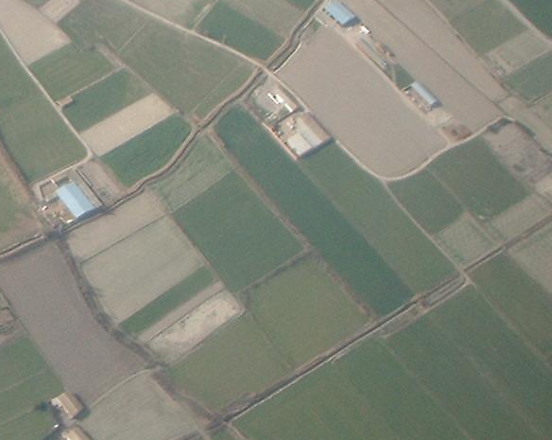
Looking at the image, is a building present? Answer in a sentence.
Yes, there is a building in the image.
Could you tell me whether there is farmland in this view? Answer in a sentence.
Yes, farmland can be seen from above here.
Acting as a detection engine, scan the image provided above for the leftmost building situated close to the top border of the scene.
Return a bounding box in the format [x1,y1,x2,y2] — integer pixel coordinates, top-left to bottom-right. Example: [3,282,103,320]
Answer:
[323,0,355,27]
